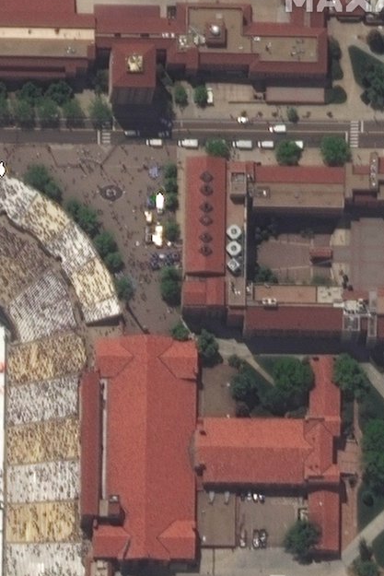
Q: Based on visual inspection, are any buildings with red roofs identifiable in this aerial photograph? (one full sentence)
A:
Yes, a building with a red roof is visible in the scene.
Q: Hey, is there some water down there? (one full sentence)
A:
No, there's no water in this view.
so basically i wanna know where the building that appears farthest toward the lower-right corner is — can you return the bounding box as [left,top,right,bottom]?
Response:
[196,353,340,554]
